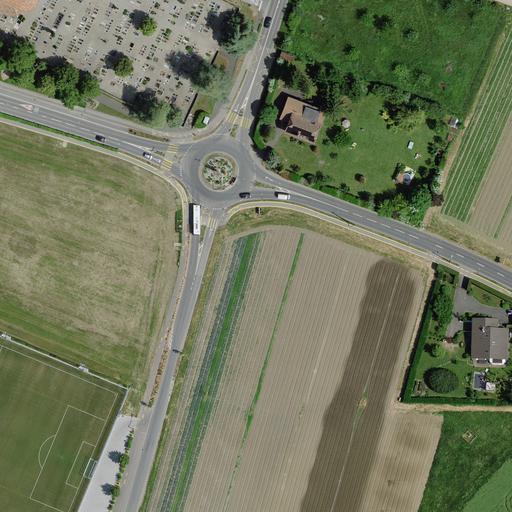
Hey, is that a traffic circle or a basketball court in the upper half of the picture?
traffic circle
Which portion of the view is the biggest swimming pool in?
bottom right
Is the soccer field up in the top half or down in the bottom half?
bottom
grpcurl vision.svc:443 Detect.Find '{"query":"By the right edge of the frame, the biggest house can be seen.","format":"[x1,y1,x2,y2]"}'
[472,318,511,367]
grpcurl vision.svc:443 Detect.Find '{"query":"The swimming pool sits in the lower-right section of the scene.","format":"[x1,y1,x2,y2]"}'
[473,372,496,394]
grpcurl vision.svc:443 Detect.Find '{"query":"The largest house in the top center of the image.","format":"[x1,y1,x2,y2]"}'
[280,96,325,144]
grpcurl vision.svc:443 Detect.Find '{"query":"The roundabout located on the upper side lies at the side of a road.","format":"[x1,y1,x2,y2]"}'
[182,134,256,208]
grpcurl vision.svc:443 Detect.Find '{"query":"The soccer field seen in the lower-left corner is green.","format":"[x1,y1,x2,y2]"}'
[0,338,130,512]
